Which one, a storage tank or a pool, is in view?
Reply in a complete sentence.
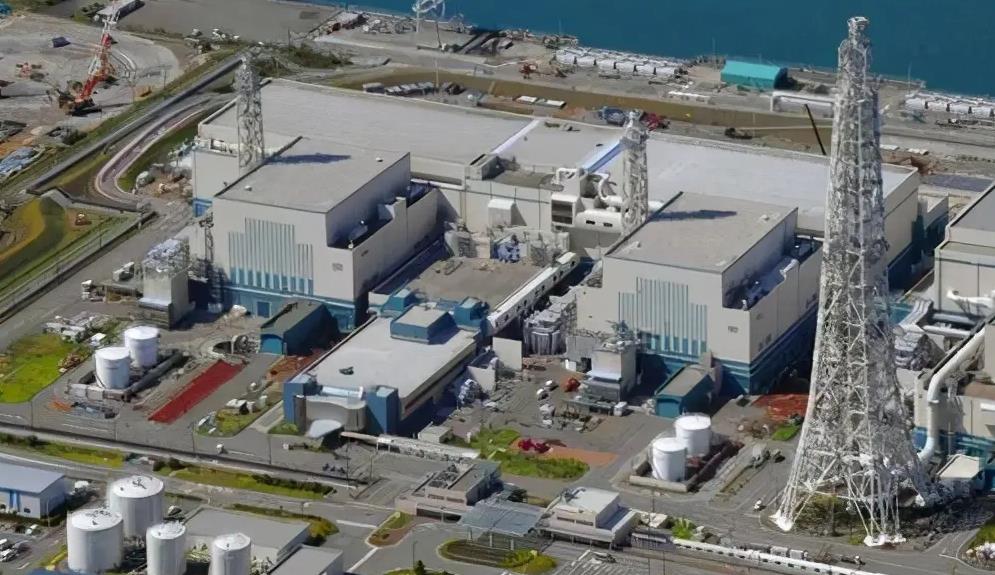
There is a storage tank in the scene.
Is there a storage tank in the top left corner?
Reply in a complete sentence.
No, no storage tank is visible in the top left corner.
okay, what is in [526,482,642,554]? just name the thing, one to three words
building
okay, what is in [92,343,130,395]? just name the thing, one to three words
storage tank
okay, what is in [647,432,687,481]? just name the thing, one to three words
storage tank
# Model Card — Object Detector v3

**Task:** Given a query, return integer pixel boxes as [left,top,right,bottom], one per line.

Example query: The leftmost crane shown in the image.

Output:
[51,0,126,109]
